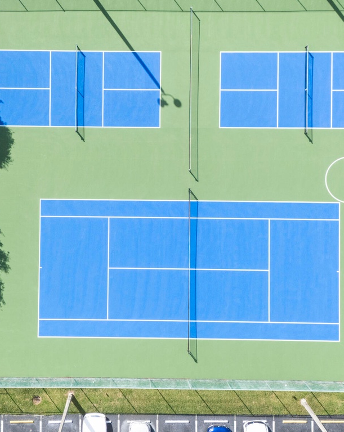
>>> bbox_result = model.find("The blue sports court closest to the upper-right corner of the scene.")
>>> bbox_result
[219,51,344,129]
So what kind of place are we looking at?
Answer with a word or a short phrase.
sports ground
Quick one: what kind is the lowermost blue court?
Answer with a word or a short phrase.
tennis court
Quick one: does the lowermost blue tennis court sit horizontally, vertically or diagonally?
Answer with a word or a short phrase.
horizontally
